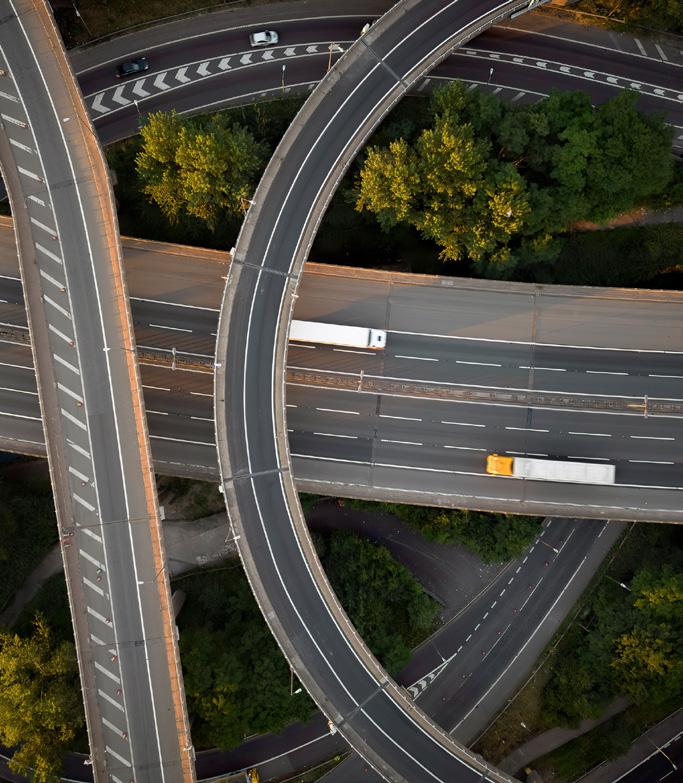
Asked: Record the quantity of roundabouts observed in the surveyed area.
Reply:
0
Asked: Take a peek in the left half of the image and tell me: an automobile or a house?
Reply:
automobile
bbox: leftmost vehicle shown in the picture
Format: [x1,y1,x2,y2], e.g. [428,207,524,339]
[116,57,149,79]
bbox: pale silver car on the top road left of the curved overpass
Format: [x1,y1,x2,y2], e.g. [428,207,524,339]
[249,31,278,49]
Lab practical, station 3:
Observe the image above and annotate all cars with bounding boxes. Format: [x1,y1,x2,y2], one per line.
[116,57,149,79]
[249,31,278,49]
